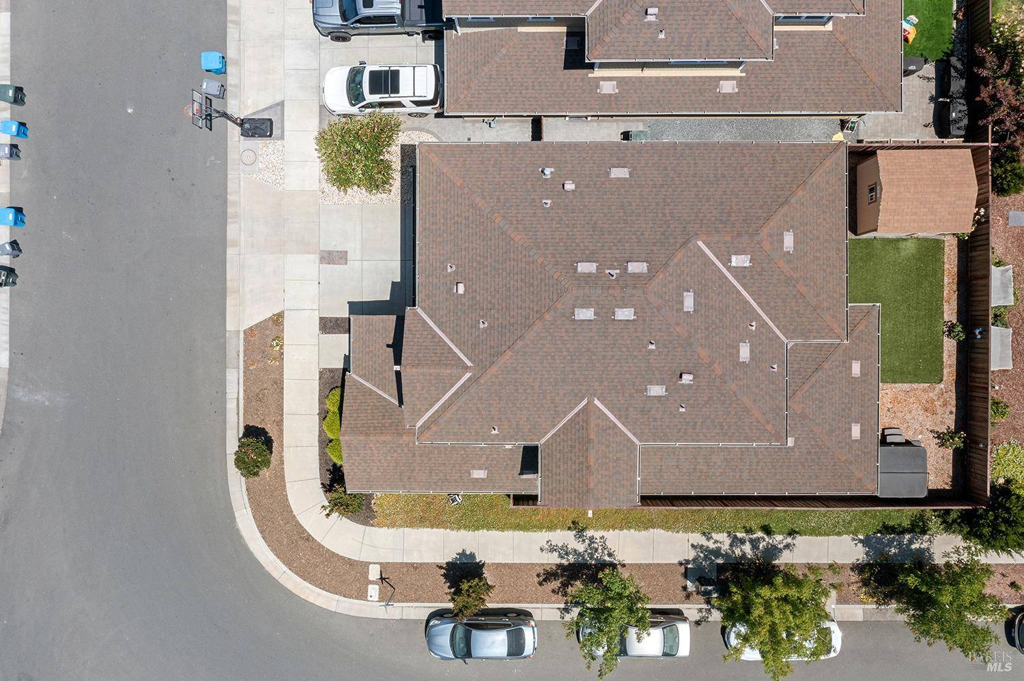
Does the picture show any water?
No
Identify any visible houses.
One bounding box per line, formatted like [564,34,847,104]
[343,140,880,519]
[444,0,903,121]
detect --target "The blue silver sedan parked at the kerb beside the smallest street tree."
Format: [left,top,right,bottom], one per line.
[426,614,538,668]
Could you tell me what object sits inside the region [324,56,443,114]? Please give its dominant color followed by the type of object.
white car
